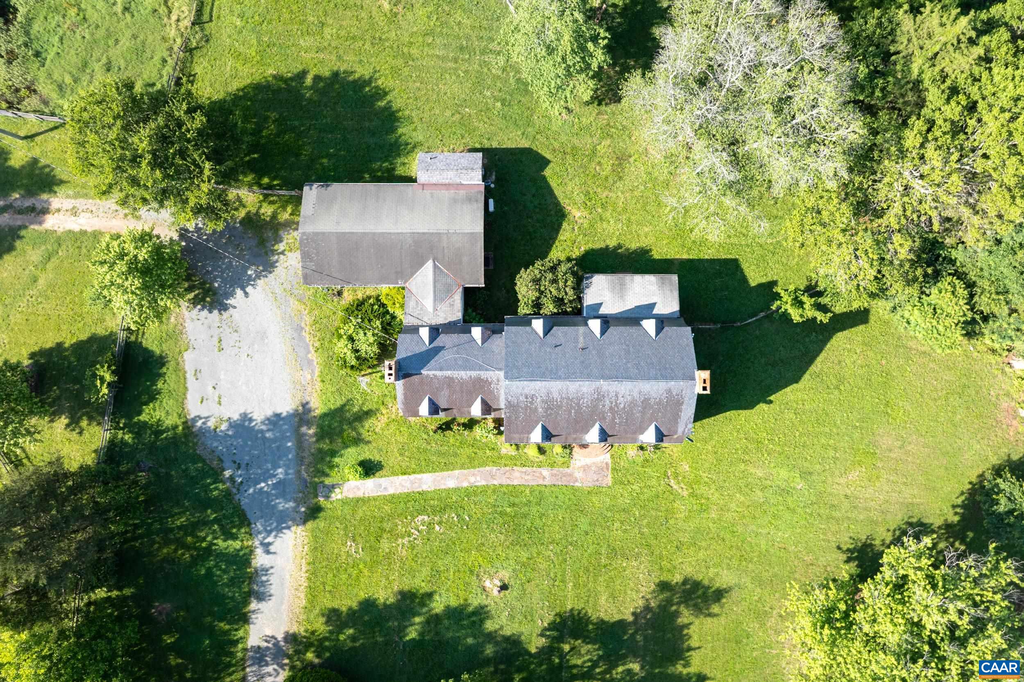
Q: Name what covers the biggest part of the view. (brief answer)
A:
grass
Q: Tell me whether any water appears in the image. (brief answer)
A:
No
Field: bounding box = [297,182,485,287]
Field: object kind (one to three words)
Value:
barn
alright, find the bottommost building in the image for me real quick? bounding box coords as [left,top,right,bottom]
[504,315,710,446]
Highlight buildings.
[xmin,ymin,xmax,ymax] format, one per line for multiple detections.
[297,182,485,287]
[504,315,710,446]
